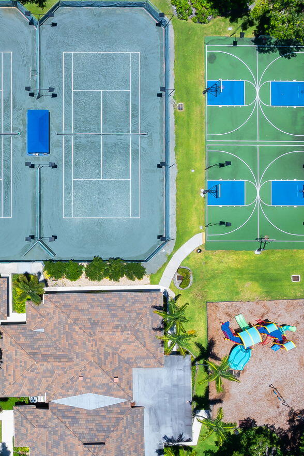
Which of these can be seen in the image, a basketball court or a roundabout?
basketball court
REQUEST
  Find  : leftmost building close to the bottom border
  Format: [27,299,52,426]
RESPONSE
[0,293,192,456]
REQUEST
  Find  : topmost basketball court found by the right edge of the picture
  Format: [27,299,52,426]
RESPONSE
[205,36,304,143]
